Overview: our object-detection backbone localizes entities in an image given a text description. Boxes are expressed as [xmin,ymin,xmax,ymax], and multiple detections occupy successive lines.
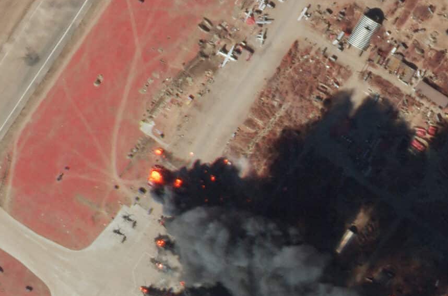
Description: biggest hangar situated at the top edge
[348,13,380,50]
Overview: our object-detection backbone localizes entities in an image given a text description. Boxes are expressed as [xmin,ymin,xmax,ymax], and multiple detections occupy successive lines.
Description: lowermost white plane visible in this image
[217,47,238,67]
